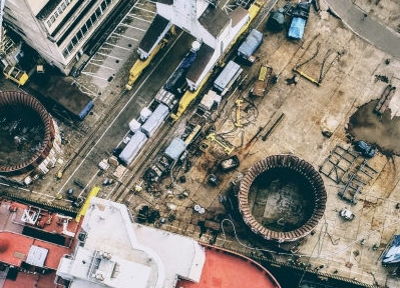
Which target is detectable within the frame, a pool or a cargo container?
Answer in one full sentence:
This aerial view contains a cargo container.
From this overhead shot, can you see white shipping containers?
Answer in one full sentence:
Yes, a white shipping container is visible in the scene.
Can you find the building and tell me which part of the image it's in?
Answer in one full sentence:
The building appears toward the top left of the photo.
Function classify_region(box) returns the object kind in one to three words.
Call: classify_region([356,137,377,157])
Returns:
vehicle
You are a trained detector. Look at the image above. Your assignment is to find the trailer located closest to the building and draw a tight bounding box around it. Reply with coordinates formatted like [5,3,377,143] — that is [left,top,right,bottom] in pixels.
[44,74,99,122]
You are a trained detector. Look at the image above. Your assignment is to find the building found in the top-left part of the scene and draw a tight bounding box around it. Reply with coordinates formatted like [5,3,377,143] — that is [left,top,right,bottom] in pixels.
[0,0,126,75]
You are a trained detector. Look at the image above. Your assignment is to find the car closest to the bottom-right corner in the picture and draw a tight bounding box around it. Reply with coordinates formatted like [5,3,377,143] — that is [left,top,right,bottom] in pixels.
[338,207,356,221]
